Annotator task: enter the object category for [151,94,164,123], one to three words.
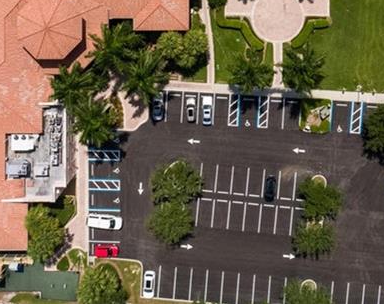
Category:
vehicle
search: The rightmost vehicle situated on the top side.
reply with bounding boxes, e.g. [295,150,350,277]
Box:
[200,96,213,125]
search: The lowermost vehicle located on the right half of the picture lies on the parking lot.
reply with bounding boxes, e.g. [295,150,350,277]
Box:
[264,173,277,202]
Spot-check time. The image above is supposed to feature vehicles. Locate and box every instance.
[94,244,120,259]
[200,96,213,125]
[264,173,277,202]
[151,94,164,123]
[185,96,197,123]
[143,269,156,298]
[87,214,122,230]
